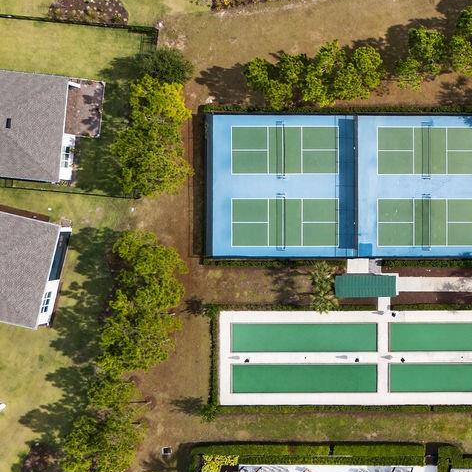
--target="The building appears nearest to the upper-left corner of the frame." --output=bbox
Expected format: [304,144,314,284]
[0,69,76,183]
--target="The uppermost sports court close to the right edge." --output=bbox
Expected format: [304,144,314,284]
[377,120,472,180]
